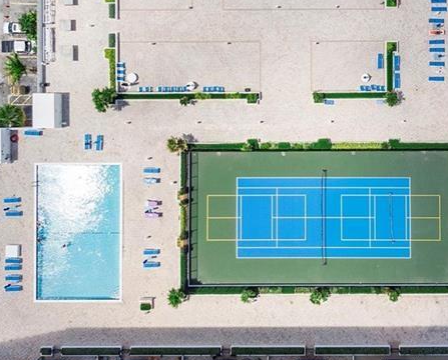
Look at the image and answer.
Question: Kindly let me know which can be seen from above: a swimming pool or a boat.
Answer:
swimming pool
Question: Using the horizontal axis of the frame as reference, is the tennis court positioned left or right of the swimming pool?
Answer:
to the right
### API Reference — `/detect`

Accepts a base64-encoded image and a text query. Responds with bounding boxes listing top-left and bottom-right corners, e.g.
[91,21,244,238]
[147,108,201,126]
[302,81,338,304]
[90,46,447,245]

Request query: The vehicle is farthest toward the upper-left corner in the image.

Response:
[2,20,21,34]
